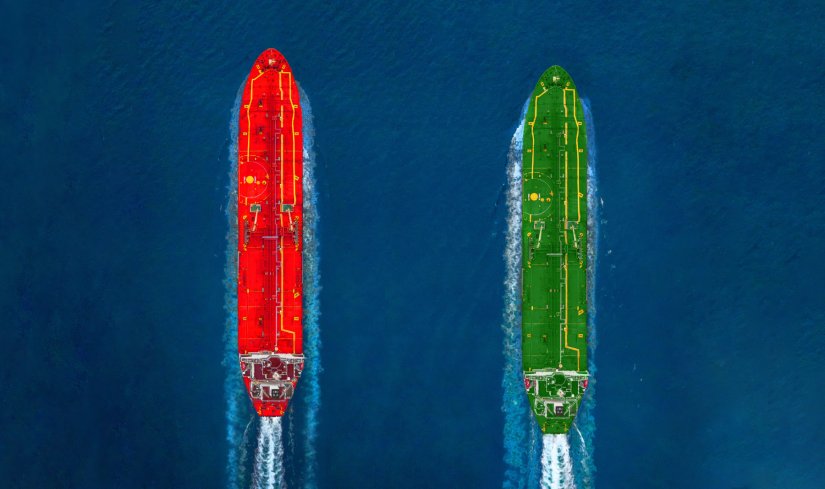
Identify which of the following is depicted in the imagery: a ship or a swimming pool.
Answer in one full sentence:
There is a ship in the scene.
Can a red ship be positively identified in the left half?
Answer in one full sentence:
Yes, there is a red ship in the left half.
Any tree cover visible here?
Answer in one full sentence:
No, no tree cover is visible.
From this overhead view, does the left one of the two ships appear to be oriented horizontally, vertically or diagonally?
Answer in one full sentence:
The left one of the two ships is oriented vertically.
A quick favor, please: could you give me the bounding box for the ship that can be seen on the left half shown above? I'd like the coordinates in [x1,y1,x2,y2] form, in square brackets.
[238,48,306,416]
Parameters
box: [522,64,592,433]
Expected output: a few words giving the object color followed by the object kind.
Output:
green ship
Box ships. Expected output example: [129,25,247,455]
[522,64,592,433]
[238,48,306,416]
